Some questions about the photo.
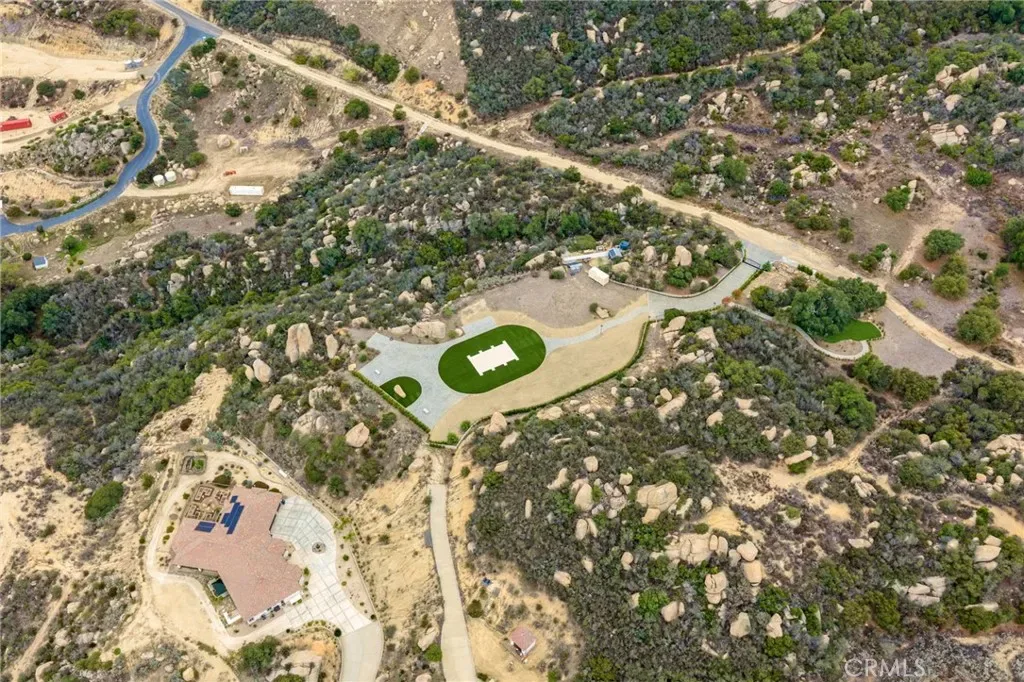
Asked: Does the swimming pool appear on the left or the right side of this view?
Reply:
left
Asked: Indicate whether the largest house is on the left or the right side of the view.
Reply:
left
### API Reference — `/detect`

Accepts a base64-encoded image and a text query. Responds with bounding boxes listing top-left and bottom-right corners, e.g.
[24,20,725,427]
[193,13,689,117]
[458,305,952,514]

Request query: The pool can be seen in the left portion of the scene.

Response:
[208,576,228,599]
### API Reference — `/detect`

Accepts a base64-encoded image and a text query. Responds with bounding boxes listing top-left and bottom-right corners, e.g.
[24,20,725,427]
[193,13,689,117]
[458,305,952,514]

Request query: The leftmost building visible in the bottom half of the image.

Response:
[170,486,303,626]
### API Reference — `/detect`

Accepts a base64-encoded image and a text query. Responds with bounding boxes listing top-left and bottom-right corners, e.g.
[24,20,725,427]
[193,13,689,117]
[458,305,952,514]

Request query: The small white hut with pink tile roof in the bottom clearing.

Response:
[510,626,538,657]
